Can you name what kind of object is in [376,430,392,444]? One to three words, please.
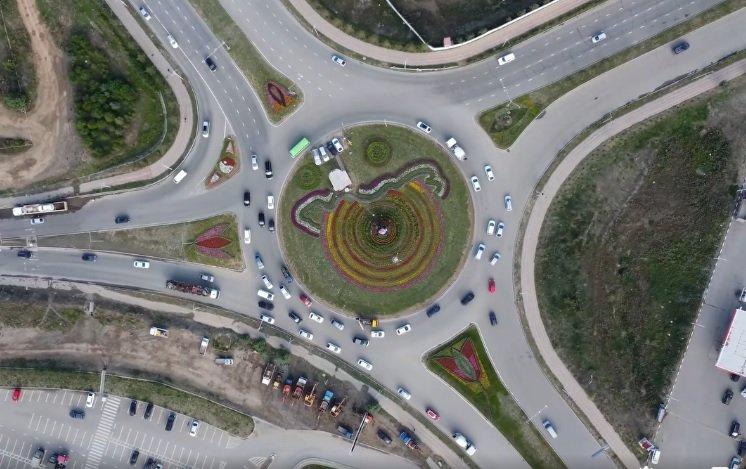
vehicle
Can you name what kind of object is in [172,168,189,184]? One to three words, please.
vehicle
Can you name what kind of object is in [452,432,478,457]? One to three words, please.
truck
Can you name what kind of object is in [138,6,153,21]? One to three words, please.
car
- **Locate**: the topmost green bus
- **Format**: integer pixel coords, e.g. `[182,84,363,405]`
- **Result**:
[288,137,311,158]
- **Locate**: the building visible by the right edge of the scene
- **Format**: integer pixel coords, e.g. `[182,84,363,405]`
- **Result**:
[708,308,746,377]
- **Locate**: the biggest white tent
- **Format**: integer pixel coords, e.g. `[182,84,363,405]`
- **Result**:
[329,169,352,192]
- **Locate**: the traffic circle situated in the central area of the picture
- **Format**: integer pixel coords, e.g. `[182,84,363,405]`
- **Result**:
[240,84,512,355]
